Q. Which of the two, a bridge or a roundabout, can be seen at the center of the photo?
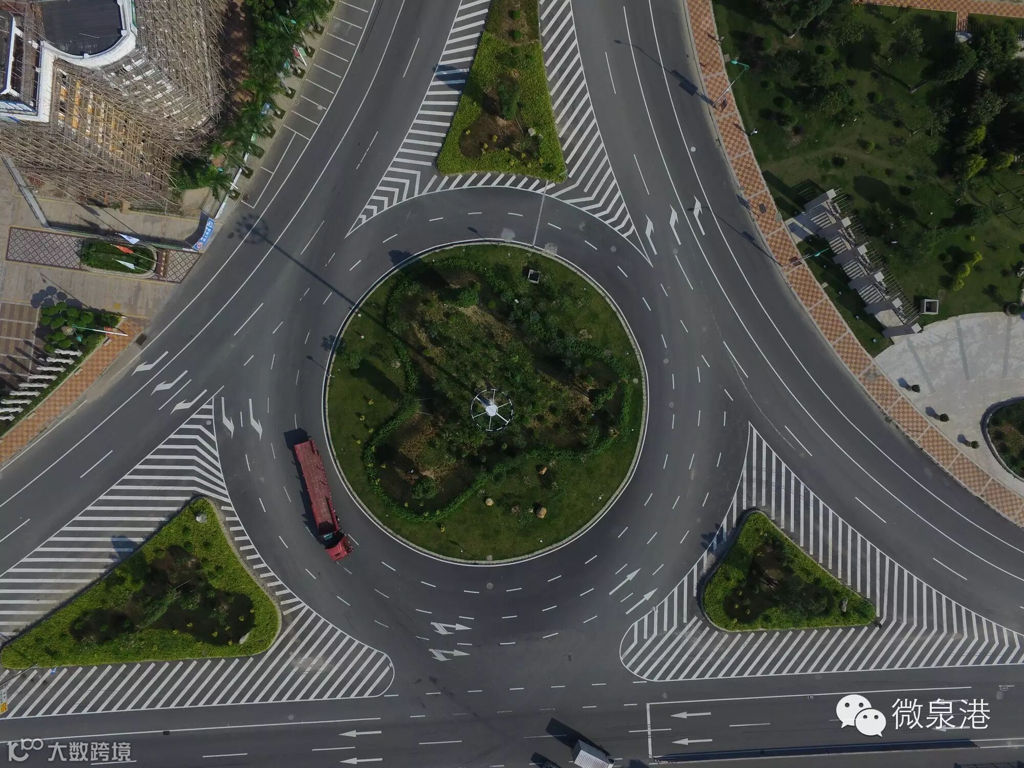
roundabout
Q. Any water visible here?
No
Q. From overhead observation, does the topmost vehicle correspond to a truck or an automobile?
truck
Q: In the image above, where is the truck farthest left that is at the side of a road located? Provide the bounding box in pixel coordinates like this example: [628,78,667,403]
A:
[295,439,358,564]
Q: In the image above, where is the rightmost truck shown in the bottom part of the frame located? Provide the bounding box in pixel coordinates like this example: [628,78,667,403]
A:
[573,737,620,768]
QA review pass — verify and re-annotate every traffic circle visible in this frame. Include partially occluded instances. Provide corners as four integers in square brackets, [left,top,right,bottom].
[270,190,697,617]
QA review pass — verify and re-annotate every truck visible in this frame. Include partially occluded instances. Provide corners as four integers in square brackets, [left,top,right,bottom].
[573,737,620,768]
[295,439,358,564]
